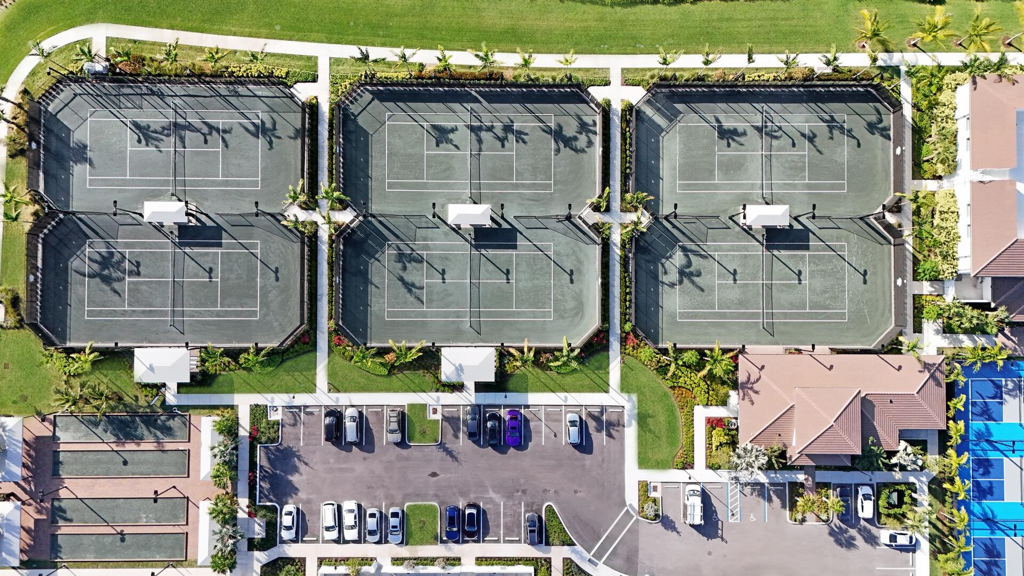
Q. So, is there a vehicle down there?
Yes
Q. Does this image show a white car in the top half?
No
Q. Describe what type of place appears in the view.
sports ground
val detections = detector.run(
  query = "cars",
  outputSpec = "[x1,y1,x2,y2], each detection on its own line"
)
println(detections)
[505,410,521,446]
[386,508,402,544]
[464,406,479,441]
[566,413,582,446]
[279,505,296,540]
[857,487,875,520]
[463,503,479,539]
[524,512,540,546]
[344,408,359,443]
[364,509,380,543]
[341,502,358,541]
[321,408,338,443]
[880,531,917,548]
[485,412,500,446]
[385,409,401,443]
[321,503,338,540]
[444,506,460,541]
[838,488,854,522]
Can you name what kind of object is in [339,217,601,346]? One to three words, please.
tennis court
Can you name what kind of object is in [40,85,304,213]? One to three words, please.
tennis court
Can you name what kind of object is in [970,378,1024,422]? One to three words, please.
sports court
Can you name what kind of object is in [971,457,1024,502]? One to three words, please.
sports court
